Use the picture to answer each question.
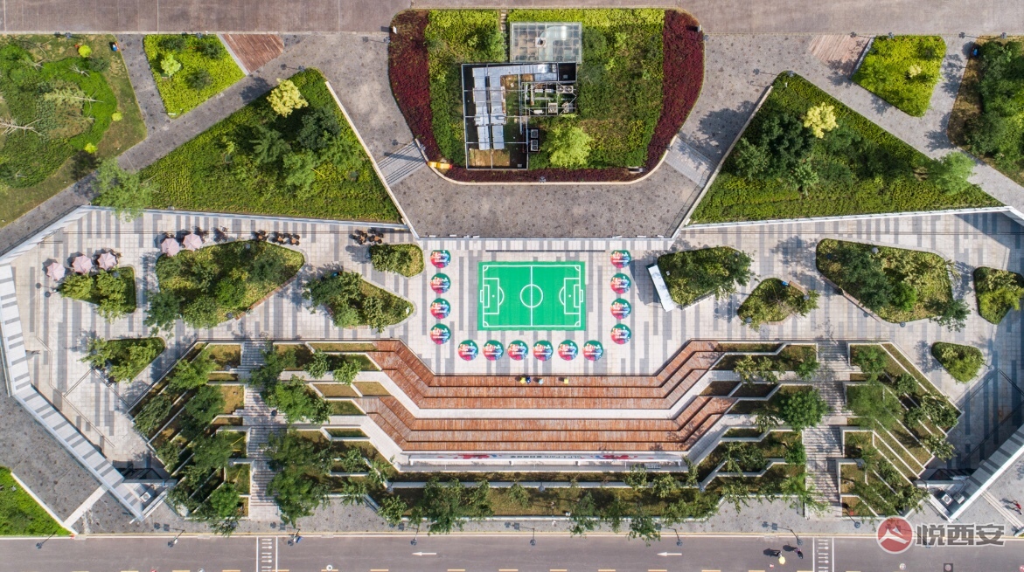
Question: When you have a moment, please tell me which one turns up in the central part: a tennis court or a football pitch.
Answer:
football pitch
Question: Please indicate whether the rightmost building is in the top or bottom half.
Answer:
bottom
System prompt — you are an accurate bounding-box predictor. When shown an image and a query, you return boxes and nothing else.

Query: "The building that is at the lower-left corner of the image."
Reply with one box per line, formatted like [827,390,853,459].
[113,463,180,518]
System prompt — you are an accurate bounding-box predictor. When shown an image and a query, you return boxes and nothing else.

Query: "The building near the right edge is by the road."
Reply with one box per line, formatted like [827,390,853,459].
[910,464,978,521]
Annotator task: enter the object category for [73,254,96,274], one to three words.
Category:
umbrella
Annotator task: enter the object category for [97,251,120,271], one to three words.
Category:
umbrella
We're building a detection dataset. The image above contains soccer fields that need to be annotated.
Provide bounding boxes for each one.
[478,261,585,331]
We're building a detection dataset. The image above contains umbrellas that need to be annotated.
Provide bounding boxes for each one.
[73,254,96,274]
[46,262,70,281]
[182,231,203,251]
[97,251,120,271]
[160,237,181,256]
